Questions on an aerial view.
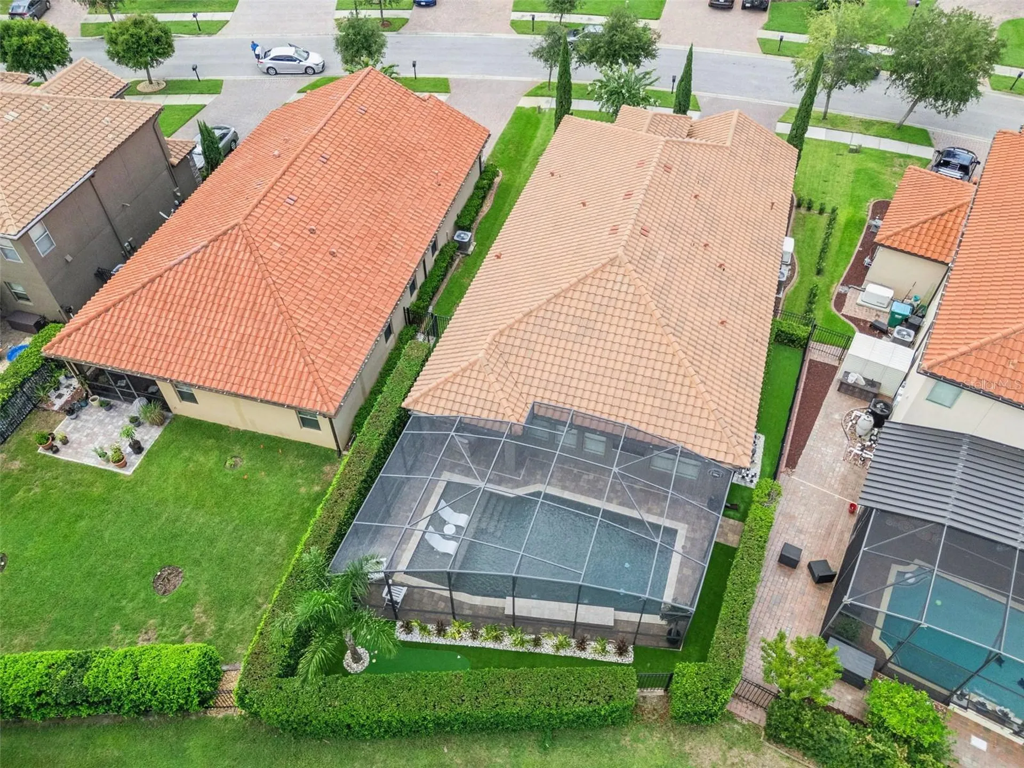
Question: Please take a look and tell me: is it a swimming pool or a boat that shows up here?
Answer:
swimming pool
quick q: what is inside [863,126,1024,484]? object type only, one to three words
house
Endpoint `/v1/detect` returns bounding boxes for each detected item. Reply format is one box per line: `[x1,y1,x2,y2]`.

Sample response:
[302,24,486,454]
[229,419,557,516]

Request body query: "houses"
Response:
[40,64,493,460]
[403,102,802,499]
[863,126,1024,484]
